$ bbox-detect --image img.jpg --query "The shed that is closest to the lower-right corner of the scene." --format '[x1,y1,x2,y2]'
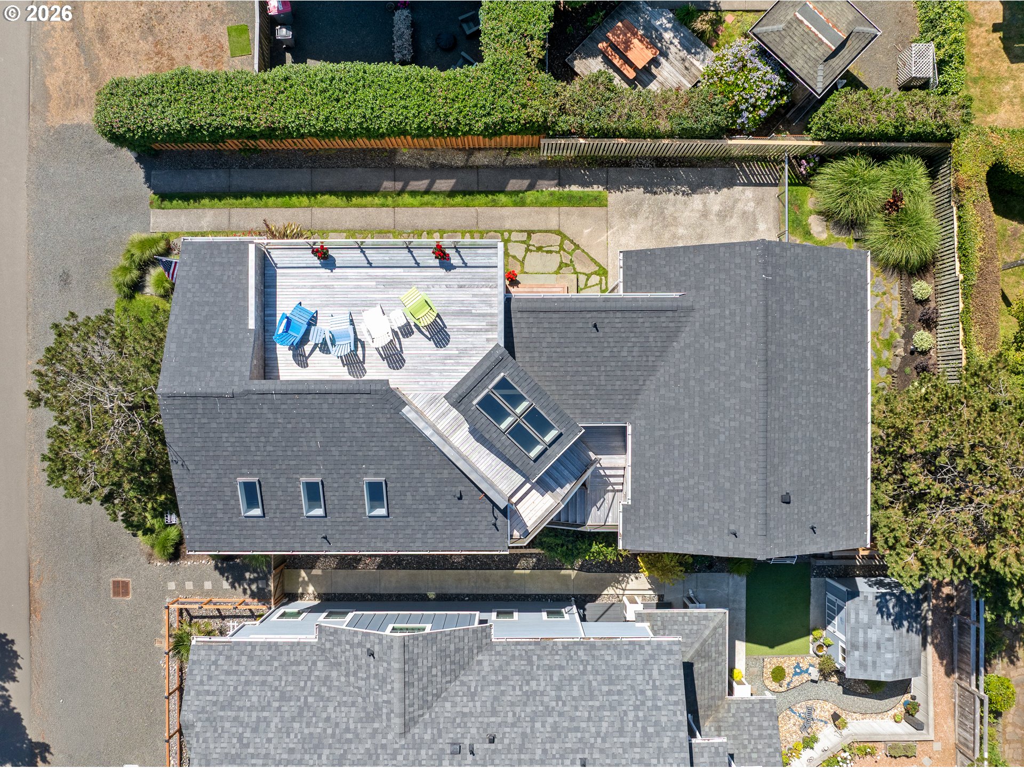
[824,578,922,688]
